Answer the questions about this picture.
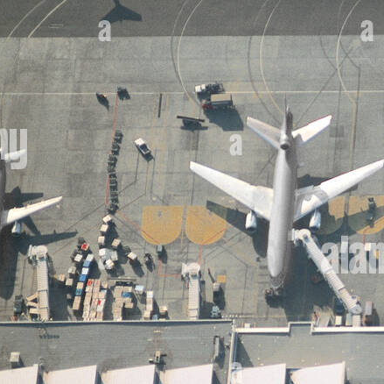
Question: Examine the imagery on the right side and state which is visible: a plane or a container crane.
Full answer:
Looking on the right side, you will find a plane.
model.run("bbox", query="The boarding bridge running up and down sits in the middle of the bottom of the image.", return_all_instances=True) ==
[176,259,207,319]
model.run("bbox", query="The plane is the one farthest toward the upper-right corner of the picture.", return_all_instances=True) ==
[191,83,379,290]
